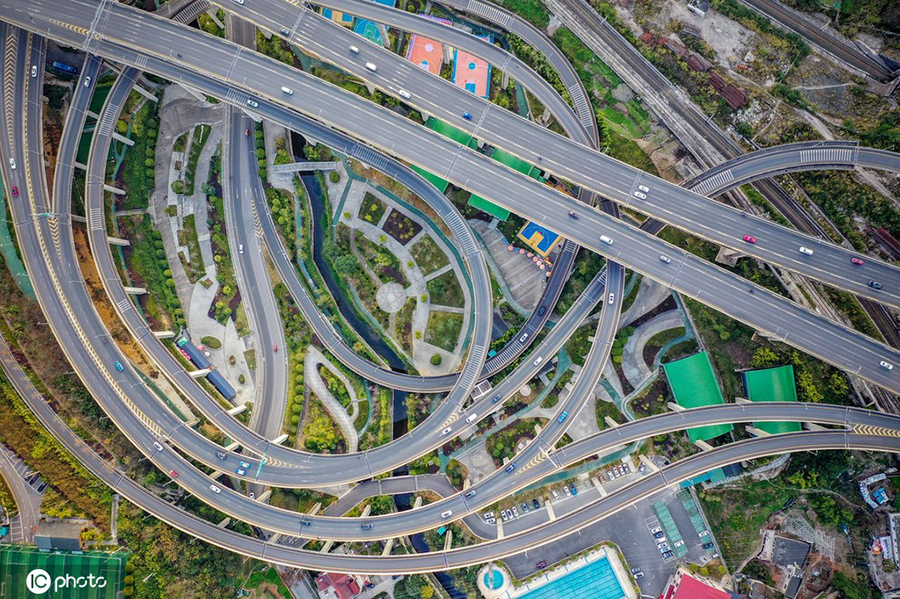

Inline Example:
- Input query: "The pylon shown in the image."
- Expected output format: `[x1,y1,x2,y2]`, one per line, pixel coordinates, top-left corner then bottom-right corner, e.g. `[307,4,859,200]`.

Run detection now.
[780,515,845,567]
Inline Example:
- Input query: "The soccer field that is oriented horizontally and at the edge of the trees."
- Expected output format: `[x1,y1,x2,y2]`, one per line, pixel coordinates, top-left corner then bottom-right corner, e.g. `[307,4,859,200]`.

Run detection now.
[0,544,128,599]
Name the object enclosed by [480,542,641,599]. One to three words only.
swimming pool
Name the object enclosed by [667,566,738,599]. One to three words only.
building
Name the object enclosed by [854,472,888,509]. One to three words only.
building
